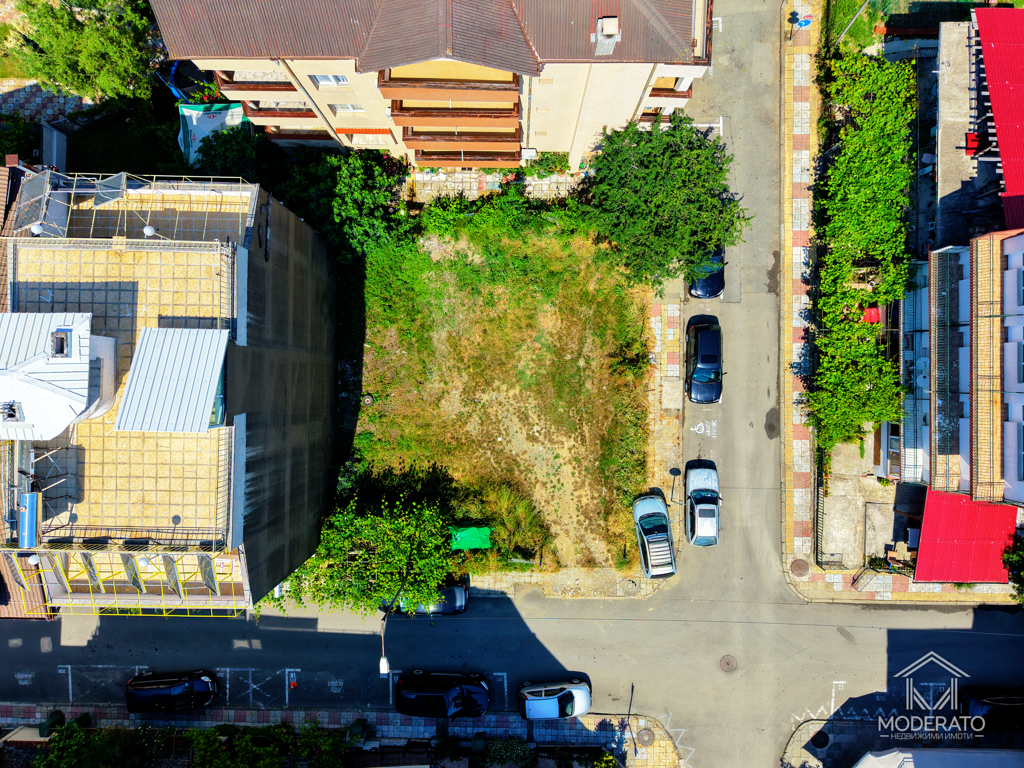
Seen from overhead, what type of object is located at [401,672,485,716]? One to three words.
car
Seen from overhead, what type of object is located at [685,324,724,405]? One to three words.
car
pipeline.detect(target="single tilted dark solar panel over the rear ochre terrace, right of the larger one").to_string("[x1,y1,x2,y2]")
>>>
[93,172,127,212]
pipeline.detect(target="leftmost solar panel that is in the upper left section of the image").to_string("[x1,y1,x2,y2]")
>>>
[13,170,51,235]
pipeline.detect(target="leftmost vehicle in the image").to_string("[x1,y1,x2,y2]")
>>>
[127,667,215,712]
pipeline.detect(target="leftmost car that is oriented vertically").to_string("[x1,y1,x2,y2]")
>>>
[632,494,674,577]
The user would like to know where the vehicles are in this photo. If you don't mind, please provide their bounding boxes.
[685,324,724,405]
[685,241,725,304]
[127,667,215,712]
[683,467,721,547]
[384,580,463,619]
[401,672,485,716]
[632,494,674,577]
[520,679,589,720]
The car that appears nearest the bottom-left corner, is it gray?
No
